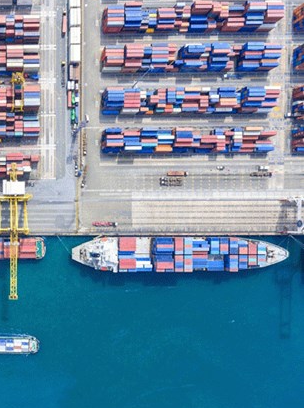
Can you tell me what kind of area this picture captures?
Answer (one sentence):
The area seen from above is a port.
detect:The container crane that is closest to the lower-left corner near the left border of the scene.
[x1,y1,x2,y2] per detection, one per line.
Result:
[0,161,28,301]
